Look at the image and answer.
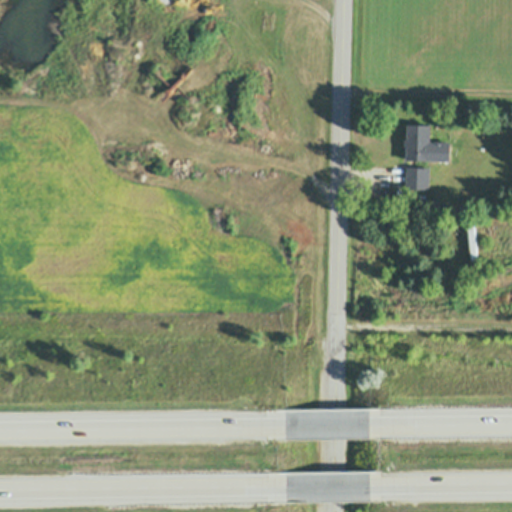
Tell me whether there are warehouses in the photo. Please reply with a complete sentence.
No, the scene contains no warehouse.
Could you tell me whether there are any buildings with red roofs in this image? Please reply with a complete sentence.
No, there isn't any building with a red roof down there.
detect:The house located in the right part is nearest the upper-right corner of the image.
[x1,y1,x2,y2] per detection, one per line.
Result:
[407,126,450,164]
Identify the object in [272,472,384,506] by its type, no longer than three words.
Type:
overpass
